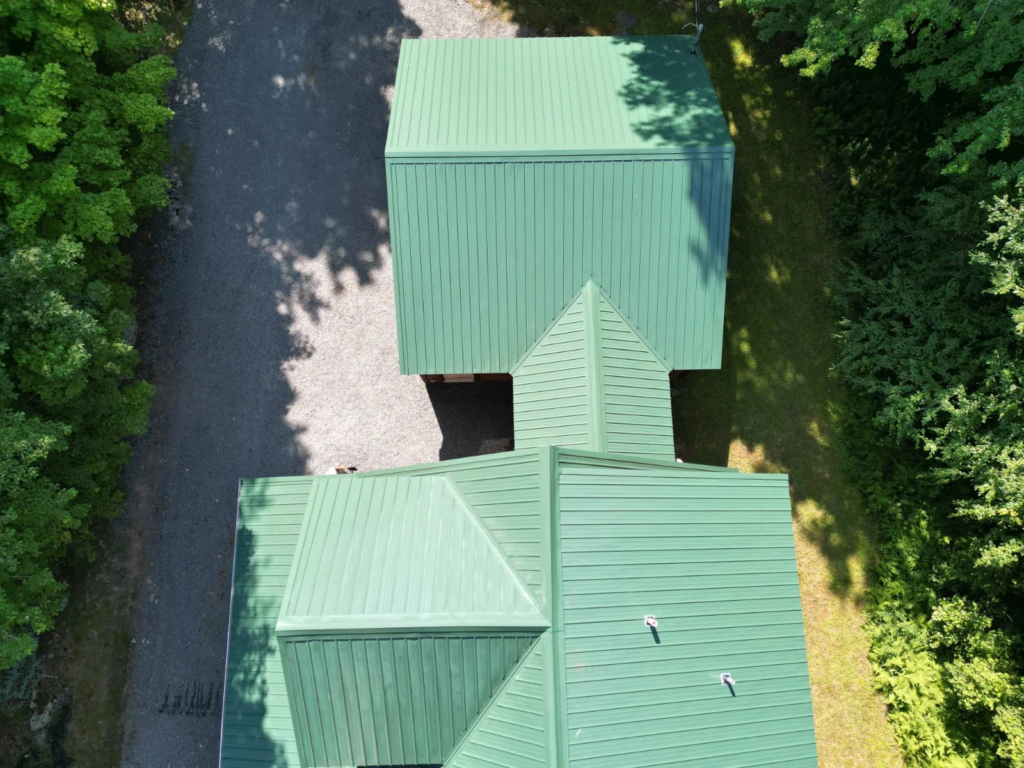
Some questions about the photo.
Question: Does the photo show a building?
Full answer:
Yes, there's a building here.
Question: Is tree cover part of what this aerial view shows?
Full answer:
Yes, tree cover shows up in the scene.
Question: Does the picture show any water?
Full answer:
No, water can't be seen anywhere here.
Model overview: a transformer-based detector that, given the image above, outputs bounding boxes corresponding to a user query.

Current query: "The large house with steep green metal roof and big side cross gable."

[217,446,817,768]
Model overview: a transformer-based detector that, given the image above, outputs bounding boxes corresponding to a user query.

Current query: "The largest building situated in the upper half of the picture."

[385,37,736,385]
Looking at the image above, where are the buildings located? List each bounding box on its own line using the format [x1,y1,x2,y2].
[217,446,817,768]
[385,37,736,385]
